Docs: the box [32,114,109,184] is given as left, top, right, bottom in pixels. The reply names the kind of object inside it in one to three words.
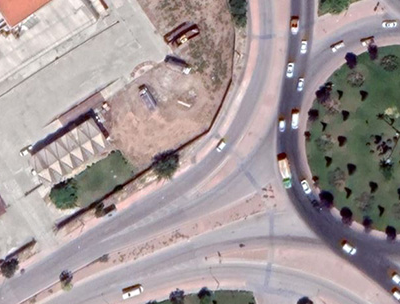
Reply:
building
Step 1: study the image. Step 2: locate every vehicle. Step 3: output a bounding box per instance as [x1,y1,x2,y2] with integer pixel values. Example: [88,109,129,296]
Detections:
[278,119,285,131]
[291,17,298,33]
[301,40,308,54]
[101,205,118,217]
[297,76,305,91]
[301,179,311,194]
[392,290,400,300]
[360,38,374,46]
[342,242,357,254]
[277,155,292,190]
[287,62,294,76]
[292,110,299,126]
[120,285,143,299]
[382,20,397,27]
[137,83,156,111]
[92,209,106,221]
[331,42,344,52]
[392,274,400,284]
[164,58,187,75]
[215,139,227,152]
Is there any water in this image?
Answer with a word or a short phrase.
No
